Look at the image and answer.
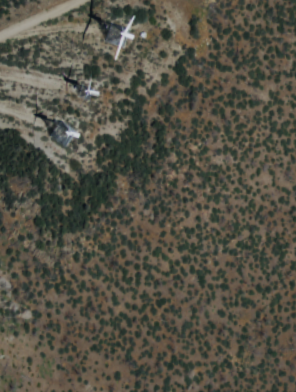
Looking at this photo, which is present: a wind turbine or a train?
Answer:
wind turbine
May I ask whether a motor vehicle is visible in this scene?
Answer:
No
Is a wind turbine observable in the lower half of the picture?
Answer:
No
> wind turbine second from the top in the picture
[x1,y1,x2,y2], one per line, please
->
[76,76,98,116]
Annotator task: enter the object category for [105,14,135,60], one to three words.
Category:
wind turbine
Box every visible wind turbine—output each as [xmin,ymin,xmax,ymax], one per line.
[76,76,98,116]
[105,14,135,60]
[48,120,78,158]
